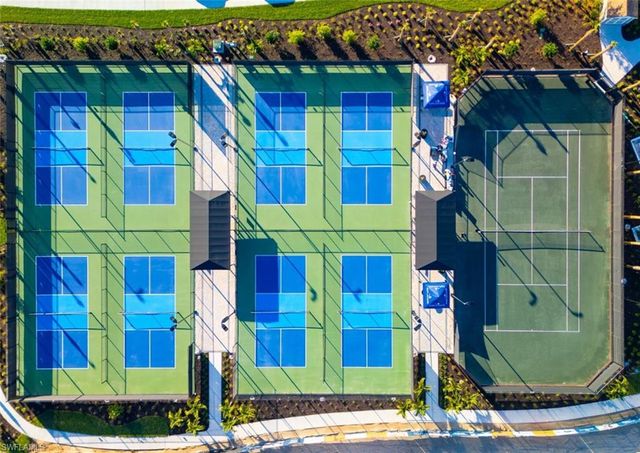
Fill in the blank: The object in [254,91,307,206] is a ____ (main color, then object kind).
blue sports court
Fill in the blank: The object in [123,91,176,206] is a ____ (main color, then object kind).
blue sports court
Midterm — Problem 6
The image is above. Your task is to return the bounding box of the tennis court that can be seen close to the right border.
[459,79,612,386]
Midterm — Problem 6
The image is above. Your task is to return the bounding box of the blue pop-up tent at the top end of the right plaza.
[419,82,449,112]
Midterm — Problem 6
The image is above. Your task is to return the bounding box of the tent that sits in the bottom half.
[419,280,449,309]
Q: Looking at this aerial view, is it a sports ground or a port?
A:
sports ground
